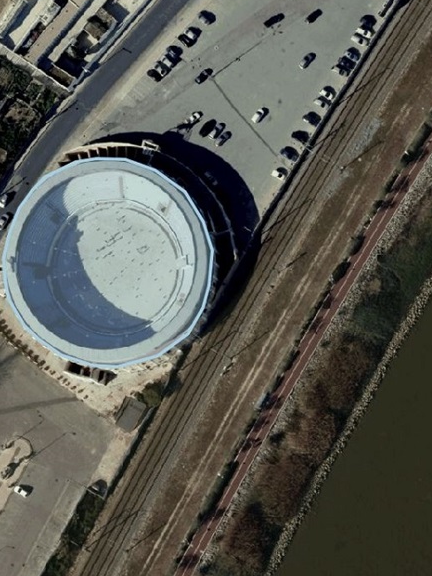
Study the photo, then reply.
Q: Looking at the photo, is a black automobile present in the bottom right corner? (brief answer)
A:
No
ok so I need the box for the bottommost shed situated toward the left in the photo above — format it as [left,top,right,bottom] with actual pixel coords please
[113,395,148,433]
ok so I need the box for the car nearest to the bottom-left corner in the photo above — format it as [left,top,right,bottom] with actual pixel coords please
[12,483,31,499]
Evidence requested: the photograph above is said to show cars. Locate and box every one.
[264,13,284,28]
[311,95,330,109]
[215,131,232,148]
[344,48,362,63]
[0,212,10,231]
[331,63,351,77]
[270,167,288,181]
[195,68,213,84]
[159,55,177,70]
[152,61,170,77]
[199,119,216,138]
[181,27,198,42]
[164,45,183,60]
[350,32,370,47]
[291,129,310,144]
[177,34,193,48]
[353,25,373,40]
[301,111,320,127]
[318,87,335,101]
[305,8,323,24]
[197,11,214,25]
[356,15,376,30]
[0,191,9,209]
[336,54,355,70]
[145,66,162,80]
[250,106,268,124]
[12,483,31,499]
[280,146,299,161]
[209,123,224,140]
[299,52,316,70]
